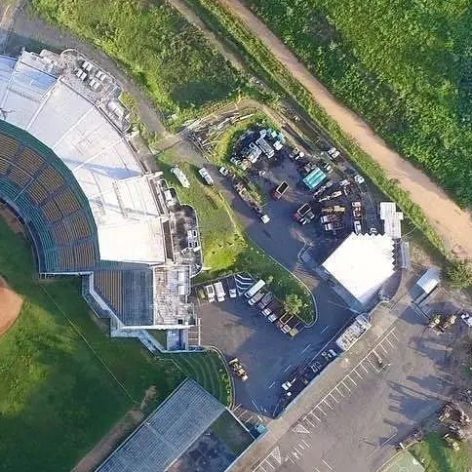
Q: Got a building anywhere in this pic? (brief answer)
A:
Yes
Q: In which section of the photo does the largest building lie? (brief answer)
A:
right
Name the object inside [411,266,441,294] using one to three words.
shed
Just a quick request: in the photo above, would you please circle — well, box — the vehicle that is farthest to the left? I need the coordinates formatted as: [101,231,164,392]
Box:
[170,161,190,187]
